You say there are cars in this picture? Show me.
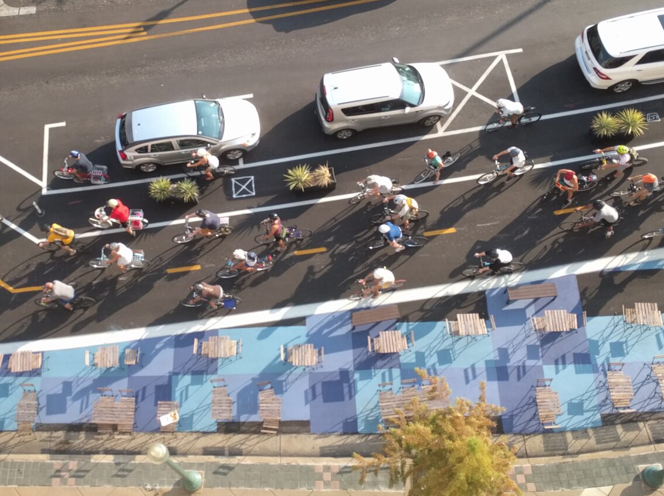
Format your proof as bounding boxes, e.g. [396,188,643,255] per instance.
[109,90,259,173]
[312,53,455,140]
[574,7,664,93]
